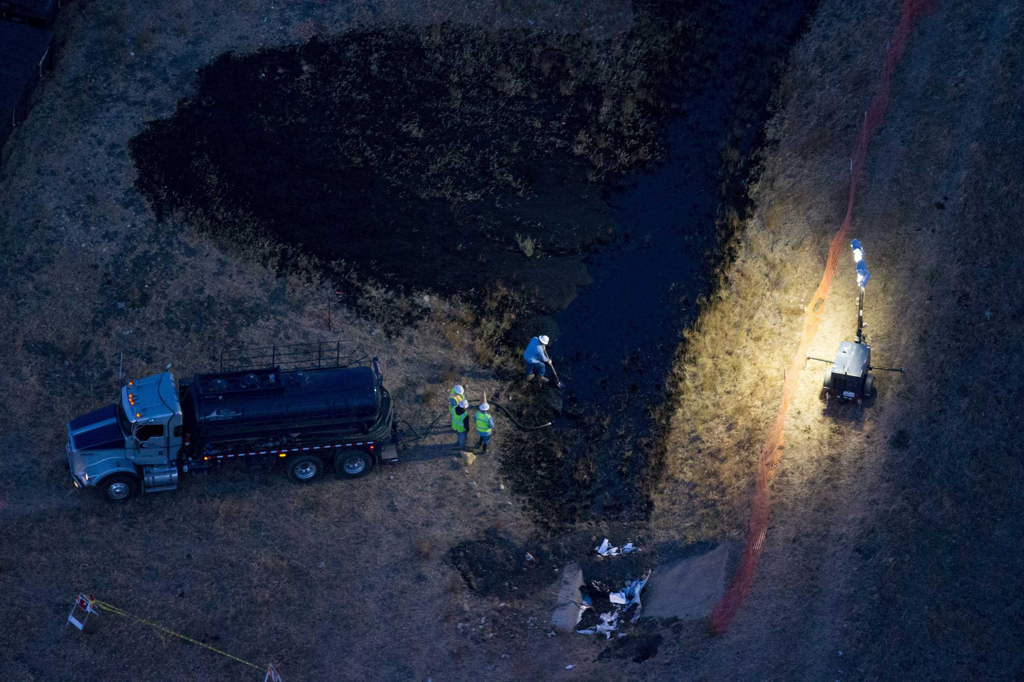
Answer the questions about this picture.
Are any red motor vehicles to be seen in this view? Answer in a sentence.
No, I can't see a single red motor vehicle in this photo.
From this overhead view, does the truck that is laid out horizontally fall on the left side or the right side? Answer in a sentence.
The truck that is laid out horizontally is on the left side of the image.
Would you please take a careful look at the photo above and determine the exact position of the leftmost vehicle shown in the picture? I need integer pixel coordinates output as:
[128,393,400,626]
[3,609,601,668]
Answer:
[61,340,397,504]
